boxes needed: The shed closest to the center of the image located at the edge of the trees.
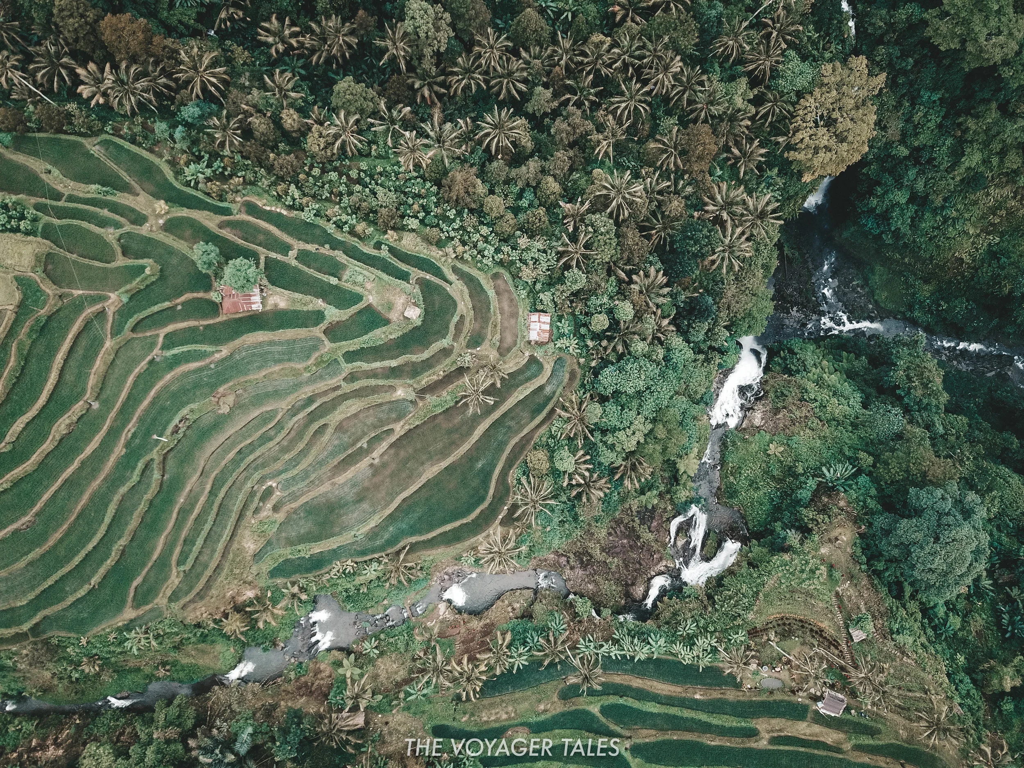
[528,313,552,345]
